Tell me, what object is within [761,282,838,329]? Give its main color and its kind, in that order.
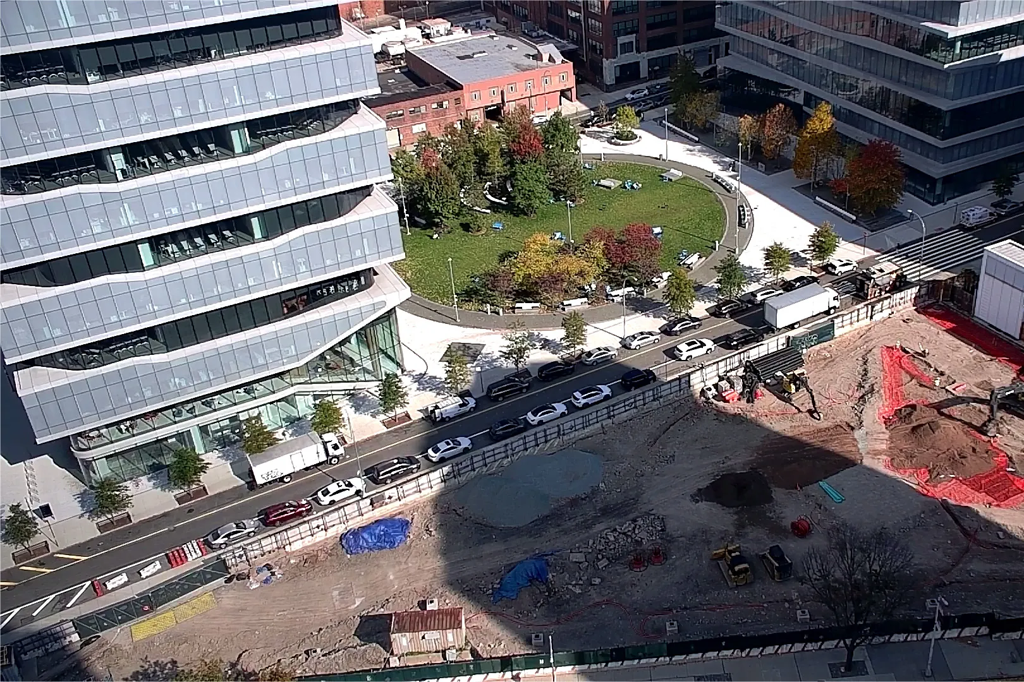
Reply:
white truck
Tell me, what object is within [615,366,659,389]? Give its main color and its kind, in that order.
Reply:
black car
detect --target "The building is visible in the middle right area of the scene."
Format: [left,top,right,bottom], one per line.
[974,240,1024,340]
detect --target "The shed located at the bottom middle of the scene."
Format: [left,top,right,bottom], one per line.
[381,598,463,661]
